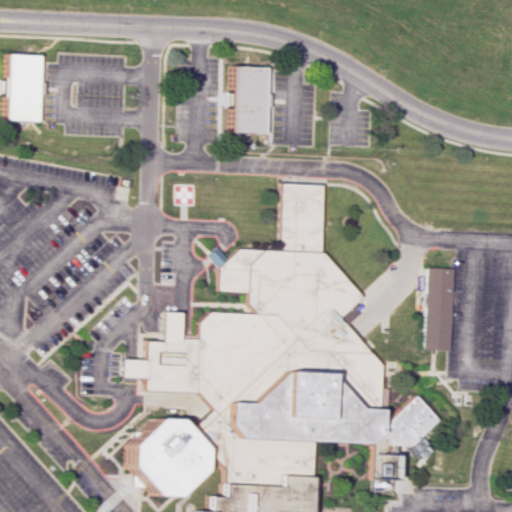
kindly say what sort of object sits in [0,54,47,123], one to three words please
building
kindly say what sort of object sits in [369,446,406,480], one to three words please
building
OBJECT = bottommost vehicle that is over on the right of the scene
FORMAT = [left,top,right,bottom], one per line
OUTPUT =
[346,304,362,320]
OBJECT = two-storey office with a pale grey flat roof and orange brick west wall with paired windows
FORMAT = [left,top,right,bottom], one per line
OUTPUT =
[219,66,273,134]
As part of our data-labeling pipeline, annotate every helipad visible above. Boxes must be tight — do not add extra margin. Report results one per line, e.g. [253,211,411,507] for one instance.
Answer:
[172,184,196,207]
